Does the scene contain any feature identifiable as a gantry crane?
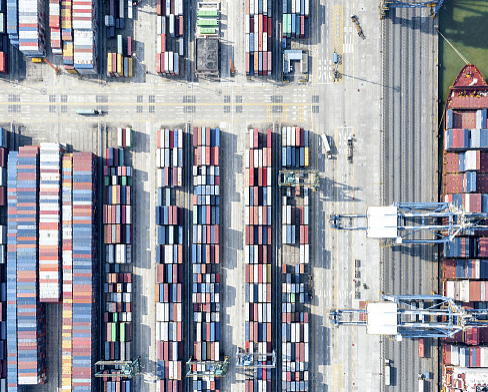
Yes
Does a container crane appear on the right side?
Yes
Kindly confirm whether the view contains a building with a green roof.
No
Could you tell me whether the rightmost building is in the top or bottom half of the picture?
top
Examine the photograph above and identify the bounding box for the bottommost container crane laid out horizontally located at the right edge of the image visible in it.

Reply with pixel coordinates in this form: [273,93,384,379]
[331,289,488,340]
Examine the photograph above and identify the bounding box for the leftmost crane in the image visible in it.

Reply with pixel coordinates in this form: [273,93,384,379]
[94,354,148,378]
